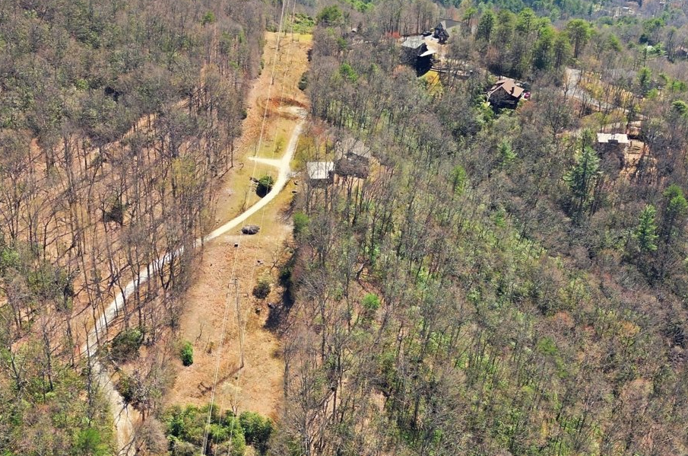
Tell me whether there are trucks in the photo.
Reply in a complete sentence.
No, this view has no truck in it.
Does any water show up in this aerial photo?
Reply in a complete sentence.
No, the scene doesn't show any water.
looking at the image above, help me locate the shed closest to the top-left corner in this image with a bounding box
[307,164,336,186]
